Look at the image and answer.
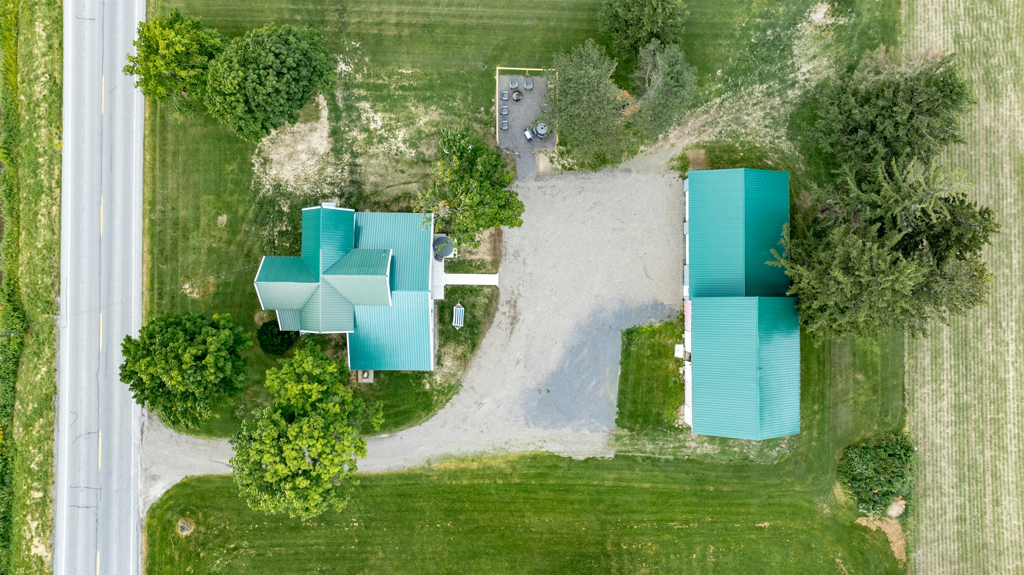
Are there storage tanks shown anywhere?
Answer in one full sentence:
No, I can see no storage tank in this picture.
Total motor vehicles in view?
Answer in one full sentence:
The photo contains no motor vehicles.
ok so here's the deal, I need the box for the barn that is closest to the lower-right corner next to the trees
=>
[684,297,801,441]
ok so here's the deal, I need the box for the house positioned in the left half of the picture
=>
[254,202,434,371]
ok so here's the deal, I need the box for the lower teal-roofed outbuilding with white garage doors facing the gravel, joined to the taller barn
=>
[684,168,789,299]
